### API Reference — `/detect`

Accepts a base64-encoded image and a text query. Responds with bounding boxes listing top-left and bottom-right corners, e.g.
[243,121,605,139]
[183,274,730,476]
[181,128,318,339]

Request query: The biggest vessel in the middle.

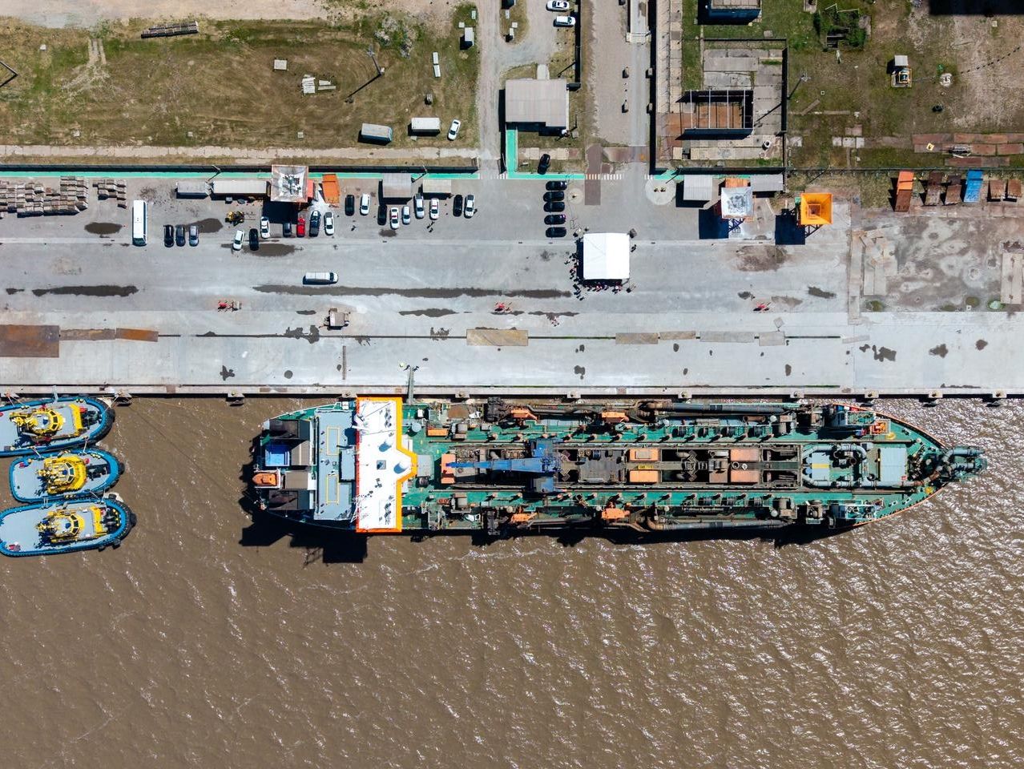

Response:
[252,398,988,533]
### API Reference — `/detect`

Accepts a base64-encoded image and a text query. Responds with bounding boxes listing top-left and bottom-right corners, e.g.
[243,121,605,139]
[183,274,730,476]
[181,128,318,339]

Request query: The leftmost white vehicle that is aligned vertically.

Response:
[130,199,148,245]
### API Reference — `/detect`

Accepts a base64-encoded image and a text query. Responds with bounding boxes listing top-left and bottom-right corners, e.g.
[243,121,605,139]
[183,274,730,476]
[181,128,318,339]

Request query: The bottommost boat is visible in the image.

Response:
[0,499,137,559]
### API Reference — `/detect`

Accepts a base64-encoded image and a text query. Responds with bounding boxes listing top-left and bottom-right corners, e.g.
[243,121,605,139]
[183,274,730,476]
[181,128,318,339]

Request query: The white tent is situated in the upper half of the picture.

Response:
[583,233,630,280]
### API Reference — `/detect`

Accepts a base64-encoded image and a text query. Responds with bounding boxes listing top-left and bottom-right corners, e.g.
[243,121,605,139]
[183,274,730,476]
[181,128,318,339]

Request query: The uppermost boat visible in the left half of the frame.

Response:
[0,395,117,456]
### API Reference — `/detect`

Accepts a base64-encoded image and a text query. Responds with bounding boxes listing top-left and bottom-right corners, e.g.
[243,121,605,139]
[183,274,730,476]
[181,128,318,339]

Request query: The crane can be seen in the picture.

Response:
[444,440,566,493]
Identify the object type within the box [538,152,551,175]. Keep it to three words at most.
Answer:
vehicle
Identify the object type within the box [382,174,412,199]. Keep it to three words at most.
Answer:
shed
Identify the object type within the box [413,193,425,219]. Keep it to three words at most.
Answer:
vehicle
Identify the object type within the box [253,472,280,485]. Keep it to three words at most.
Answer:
boat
